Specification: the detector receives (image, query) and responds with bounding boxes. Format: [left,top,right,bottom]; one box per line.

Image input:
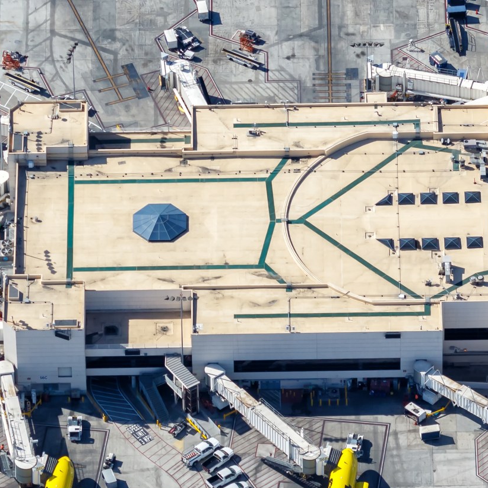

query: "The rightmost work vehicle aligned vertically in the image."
[448,14,460,52]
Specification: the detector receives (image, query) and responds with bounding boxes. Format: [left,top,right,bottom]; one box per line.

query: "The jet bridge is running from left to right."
[369,65,488,105]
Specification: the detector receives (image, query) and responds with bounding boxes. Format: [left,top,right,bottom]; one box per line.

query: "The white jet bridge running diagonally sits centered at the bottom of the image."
[207,364,339,481]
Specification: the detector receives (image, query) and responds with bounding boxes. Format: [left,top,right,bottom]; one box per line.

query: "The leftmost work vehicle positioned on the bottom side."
[66,413,84,446]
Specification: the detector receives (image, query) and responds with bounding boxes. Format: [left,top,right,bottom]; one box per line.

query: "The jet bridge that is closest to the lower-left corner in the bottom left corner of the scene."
[0,363,58,485]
